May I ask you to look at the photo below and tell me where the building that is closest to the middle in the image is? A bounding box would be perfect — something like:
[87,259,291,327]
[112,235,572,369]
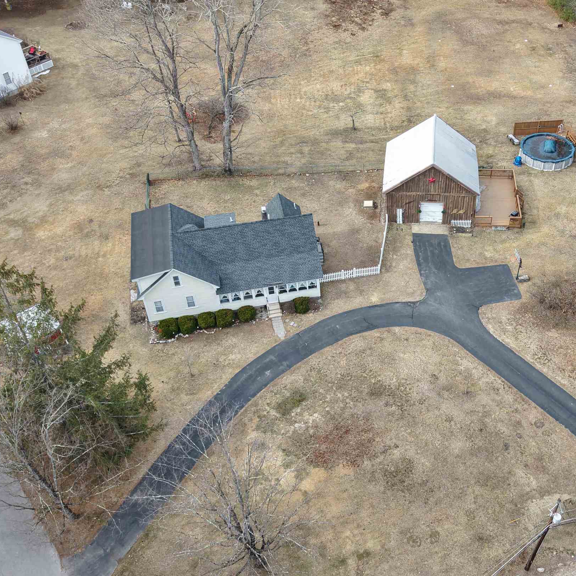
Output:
[130,192,331,322]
